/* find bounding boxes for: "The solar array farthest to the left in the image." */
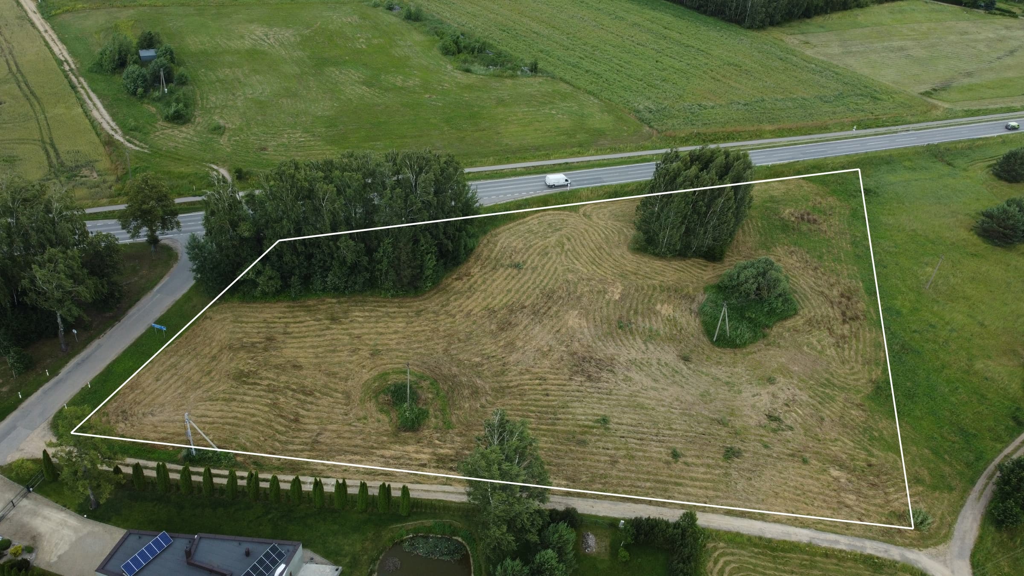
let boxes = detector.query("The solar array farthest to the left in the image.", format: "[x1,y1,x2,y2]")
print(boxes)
[121,529,175,573]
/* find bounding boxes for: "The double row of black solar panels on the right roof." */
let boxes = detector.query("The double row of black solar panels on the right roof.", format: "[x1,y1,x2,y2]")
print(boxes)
[239,541,289,576]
